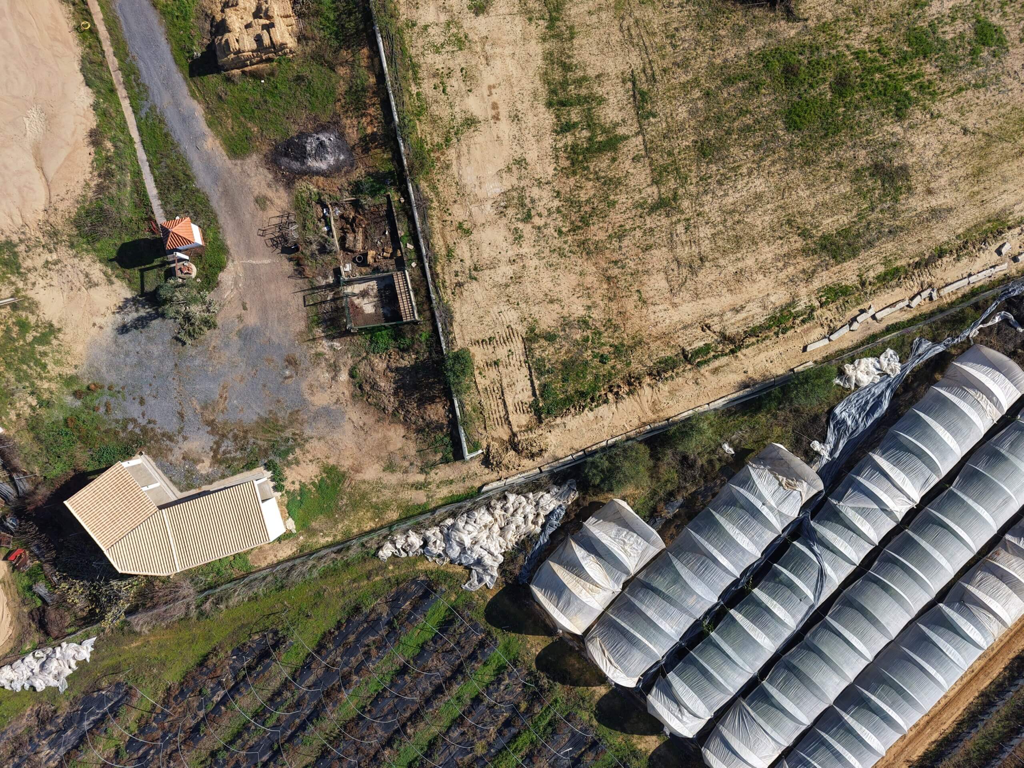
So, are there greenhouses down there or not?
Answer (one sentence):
Yes, the image includes a greenhouse.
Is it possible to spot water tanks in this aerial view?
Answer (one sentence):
No, I can see no water tank in this picture.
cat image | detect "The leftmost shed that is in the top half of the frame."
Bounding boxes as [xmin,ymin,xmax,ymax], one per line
[160,216,211,256]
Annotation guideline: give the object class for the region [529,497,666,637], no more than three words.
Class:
greenhouse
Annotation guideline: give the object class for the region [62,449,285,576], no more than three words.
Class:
house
